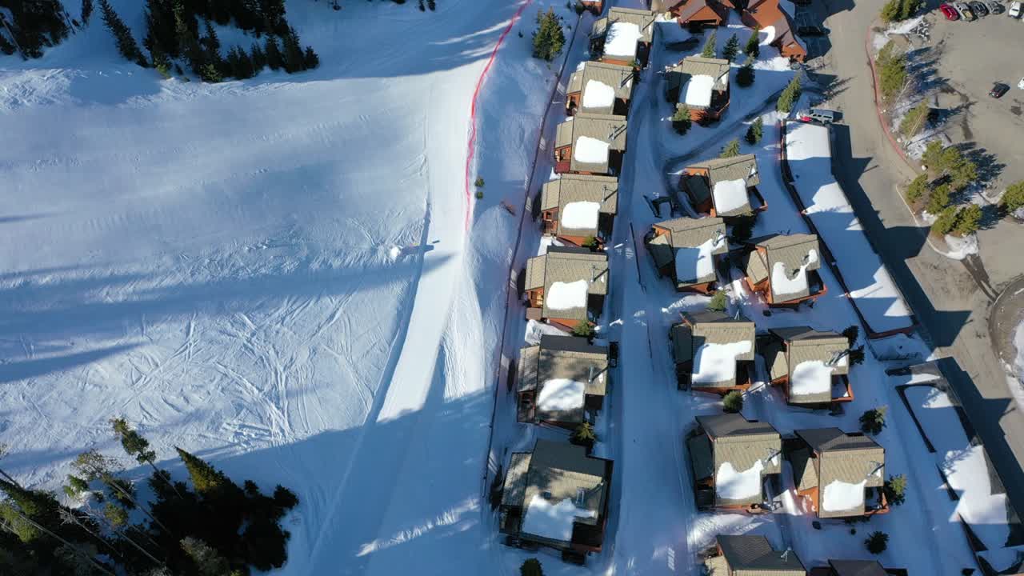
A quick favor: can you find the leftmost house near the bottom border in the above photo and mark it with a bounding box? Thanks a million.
[495,442,605,554]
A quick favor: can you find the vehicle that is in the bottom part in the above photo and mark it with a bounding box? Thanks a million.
[606,342,621,369]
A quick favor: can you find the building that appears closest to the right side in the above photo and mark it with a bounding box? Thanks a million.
[882,358,1024,576]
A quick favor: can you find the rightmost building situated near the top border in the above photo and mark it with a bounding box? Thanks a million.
[726,0,826,70]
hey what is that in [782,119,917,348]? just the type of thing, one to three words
building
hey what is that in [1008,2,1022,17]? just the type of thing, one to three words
vehicle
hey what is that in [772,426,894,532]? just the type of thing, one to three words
house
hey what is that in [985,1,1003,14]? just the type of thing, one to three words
vehicle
